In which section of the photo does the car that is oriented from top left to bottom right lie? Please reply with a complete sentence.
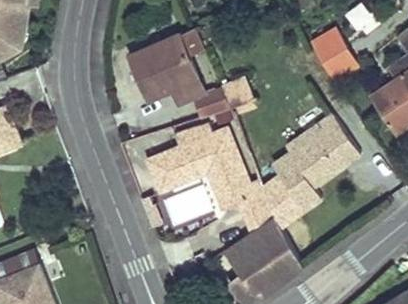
Look in the right portion of the view to spot the car that is oriented from top left to bottom right.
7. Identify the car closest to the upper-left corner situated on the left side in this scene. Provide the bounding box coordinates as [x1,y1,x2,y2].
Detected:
[140,101,161,116]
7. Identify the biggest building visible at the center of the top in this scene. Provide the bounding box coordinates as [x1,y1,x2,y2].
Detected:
[128,28,206,106]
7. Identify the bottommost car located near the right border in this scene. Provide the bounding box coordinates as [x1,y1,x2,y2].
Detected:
[394,256,408,272]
